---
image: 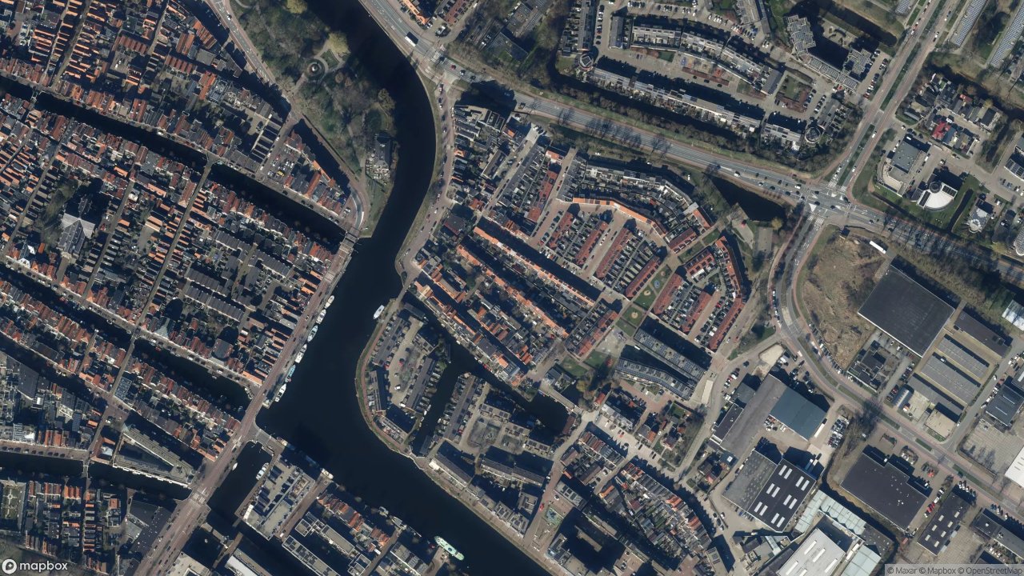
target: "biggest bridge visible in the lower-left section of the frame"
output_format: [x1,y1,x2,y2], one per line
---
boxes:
[168,454,219,517]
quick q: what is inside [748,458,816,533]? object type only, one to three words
building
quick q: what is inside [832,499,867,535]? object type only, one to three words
greenhouse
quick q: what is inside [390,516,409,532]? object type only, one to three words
vessel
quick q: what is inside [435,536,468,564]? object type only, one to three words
vessel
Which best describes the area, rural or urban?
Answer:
urban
